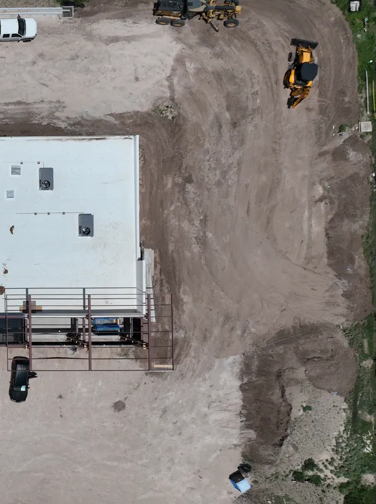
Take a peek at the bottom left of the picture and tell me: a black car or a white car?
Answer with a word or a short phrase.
black car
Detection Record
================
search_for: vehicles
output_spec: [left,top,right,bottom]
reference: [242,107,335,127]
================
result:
[281,36,321,104]
[8,356,37,403]
[0,14,37,43]
[154,0,243,30]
